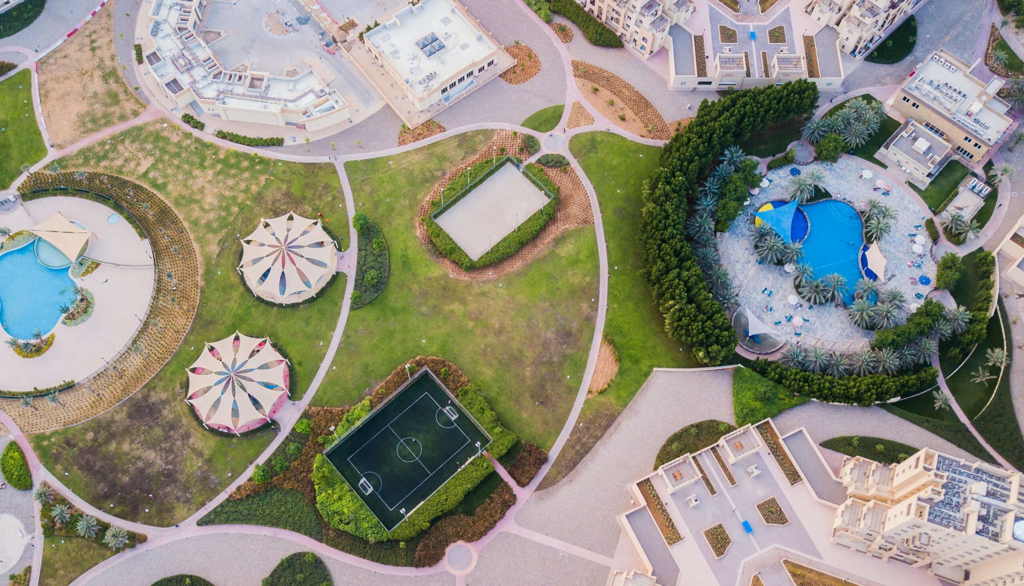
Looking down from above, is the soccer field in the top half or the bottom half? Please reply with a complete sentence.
The soccer field is in the bottom half of the image.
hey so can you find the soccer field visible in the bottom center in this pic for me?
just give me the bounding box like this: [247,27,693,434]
[326,372,491,530]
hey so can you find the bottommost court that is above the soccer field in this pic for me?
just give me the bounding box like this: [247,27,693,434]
[436,162,548,260]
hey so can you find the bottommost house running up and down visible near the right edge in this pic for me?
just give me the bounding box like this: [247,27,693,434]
[989,215,1024,298]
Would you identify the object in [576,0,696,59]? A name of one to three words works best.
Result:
building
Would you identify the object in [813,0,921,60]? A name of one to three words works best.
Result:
building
